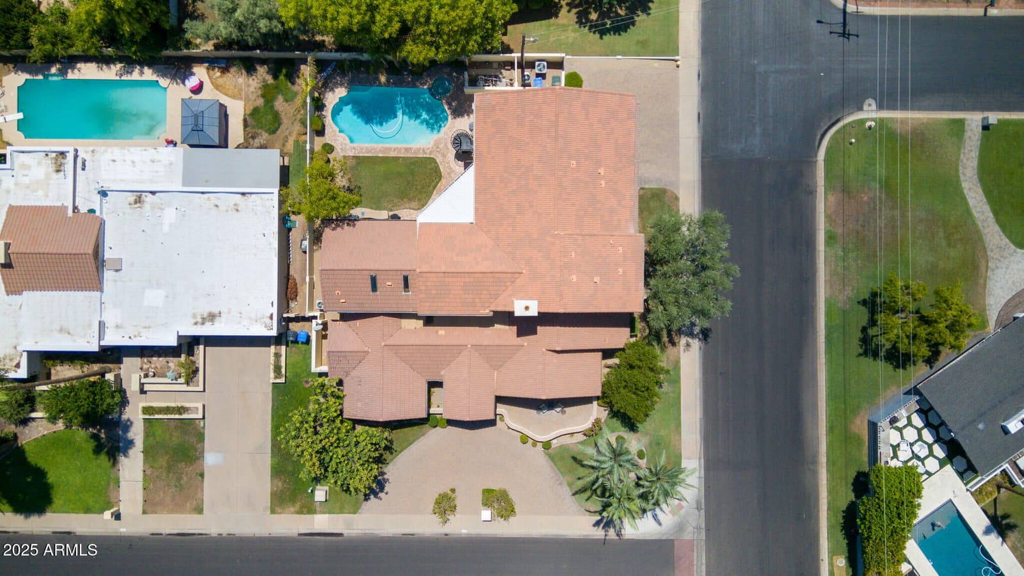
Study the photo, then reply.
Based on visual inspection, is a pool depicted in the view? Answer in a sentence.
Yes, a pool can be made out from above.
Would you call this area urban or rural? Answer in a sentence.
The area is urban.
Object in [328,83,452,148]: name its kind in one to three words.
swimming pool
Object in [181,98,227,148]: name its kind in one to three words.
gazebo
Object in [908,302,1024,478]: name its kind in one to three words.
house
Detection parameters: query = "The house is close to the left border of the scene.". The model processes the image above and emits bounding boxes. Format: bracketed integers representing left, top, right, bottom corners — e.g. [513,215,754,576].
[0,147,287,377]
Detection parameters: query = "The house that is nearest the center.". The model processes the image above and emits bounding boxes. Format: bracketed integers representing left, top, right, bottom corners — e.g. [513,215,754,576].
[319,86,645,423]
